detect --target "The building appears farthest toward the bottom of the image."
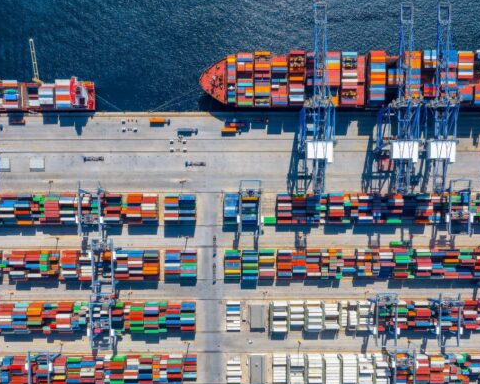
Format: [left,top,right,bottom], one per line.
[250,354,266,384]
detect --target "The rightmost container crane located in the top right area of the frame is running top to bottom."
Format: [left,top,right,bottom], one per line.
[404,2,466,195]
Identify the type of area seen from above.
port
